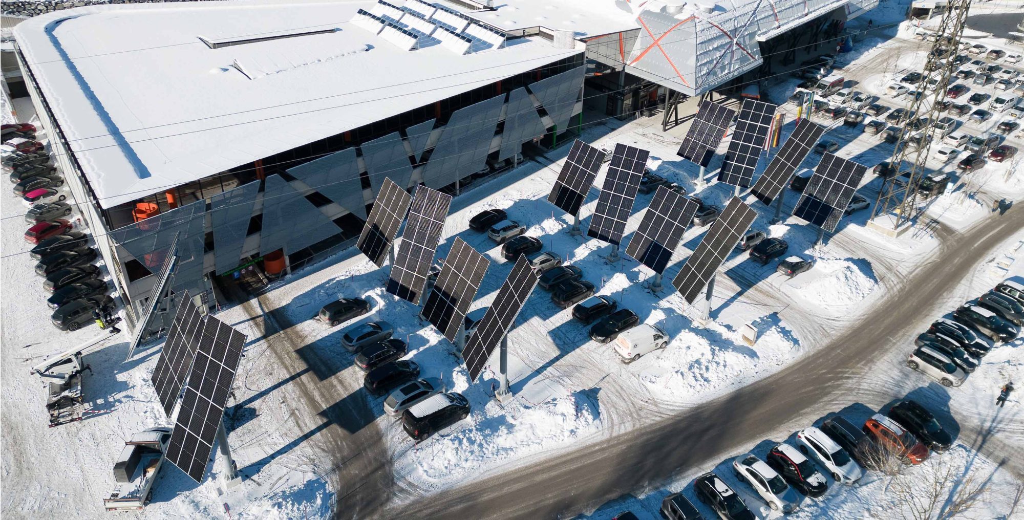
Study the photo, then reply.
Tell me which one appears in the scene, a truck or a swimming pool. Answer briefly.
truck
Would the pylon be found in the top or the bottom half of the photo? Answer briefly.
top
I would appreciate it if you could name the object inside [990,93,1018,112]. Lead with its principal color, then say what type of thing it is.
white vehicle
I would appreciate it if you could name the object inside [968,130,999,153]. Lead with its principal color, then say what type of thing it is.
gray vehicle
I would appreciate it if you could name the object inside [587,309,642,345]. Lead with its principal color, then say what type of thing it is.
black car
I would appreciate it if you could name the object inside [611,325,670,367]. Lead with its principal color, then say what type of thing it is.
white van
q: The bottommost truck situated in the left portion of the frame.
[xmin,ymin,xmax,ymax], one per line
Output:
[98,432,166,510]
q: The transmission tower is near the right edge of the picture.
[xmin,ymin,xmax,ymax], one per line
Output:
[861,0,978,235]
